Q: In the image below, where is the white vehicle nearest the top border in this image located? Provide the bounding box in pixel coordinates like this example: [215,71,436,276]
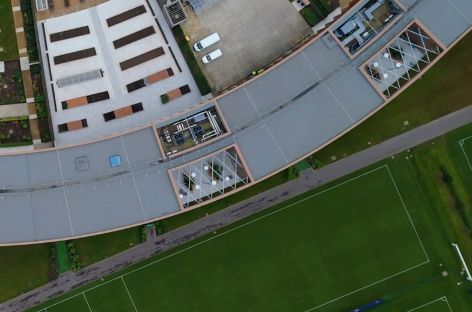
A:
[195,33,222,52]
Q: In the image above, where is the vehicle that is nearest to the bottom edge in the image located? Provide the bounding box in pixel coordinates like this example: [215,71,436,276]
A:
[202,48,224,64]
